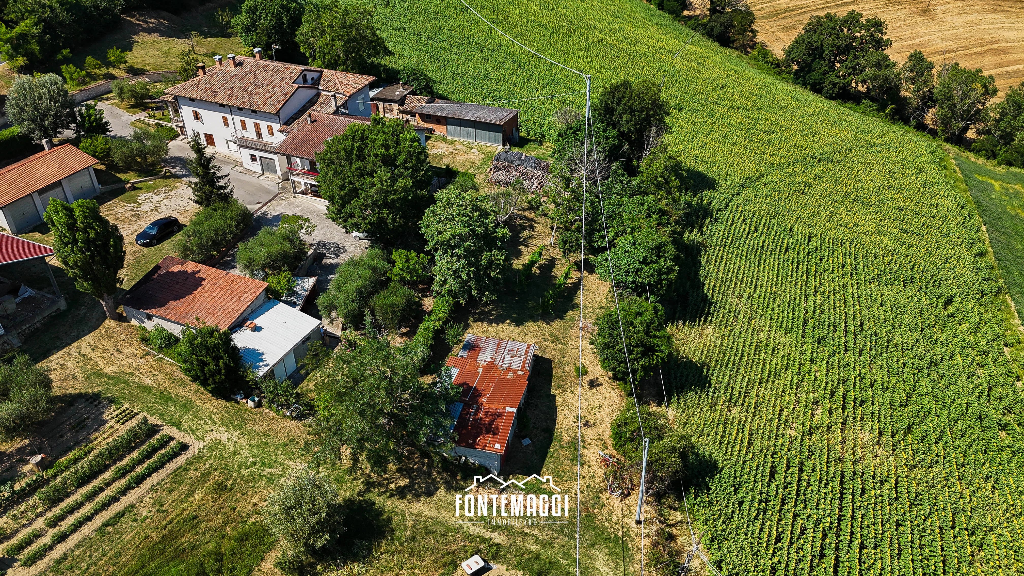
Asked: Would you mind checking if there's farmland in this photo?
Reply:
Yes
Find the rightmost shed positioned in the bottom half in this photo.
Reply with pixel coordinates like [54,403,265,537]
[437,331,537,476]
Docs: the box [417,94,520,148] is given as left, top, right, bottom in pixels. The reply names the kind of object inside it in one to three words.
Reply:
shed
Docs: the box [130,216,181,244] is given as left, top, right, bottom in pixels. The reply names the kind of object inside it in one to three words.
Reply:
car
